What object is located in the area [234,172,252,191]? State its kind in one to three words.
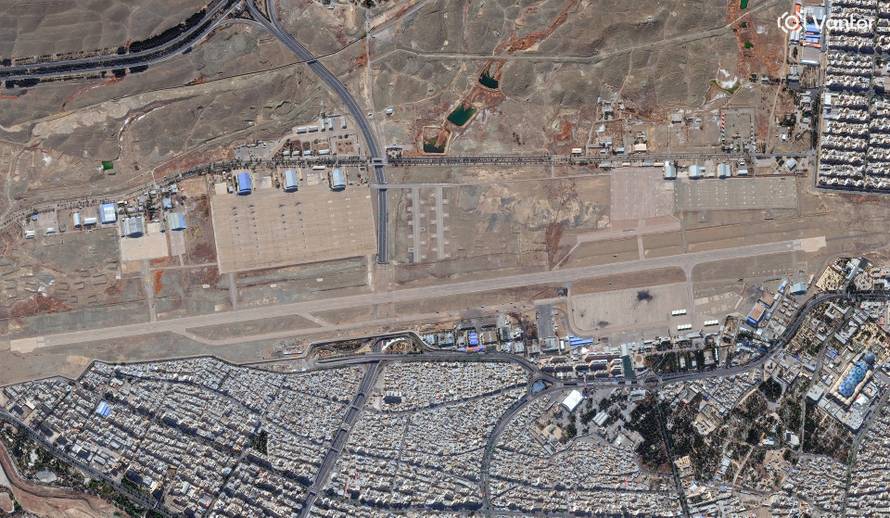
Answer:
hangar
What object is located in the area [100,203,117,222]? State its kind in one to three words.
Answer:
building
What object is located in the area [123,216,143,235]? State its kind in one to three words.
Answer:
hangar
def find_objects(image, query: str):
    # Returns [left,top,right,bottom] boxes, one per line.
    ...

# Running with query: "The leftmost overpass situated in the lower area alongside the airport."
[322,353,395,367]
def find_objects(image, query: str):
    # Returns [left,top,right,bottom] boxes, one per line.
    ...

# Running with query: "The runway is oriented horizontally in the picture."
[10,236,827,353]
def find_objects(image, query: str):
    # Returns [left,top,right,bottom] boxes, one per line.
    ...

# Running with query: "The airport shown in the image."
[10,162,827,353]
